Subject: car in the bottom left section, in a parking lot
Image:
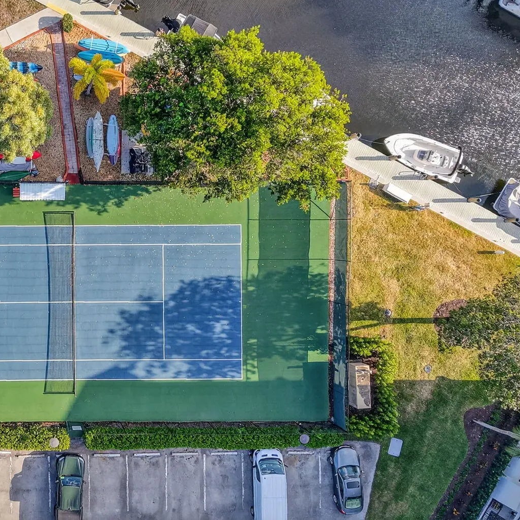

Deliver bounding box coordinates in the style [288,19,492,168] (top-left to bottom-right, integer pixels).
[54,454,87,520]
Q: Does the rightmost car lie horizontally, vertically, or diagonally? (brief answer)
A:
vertically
